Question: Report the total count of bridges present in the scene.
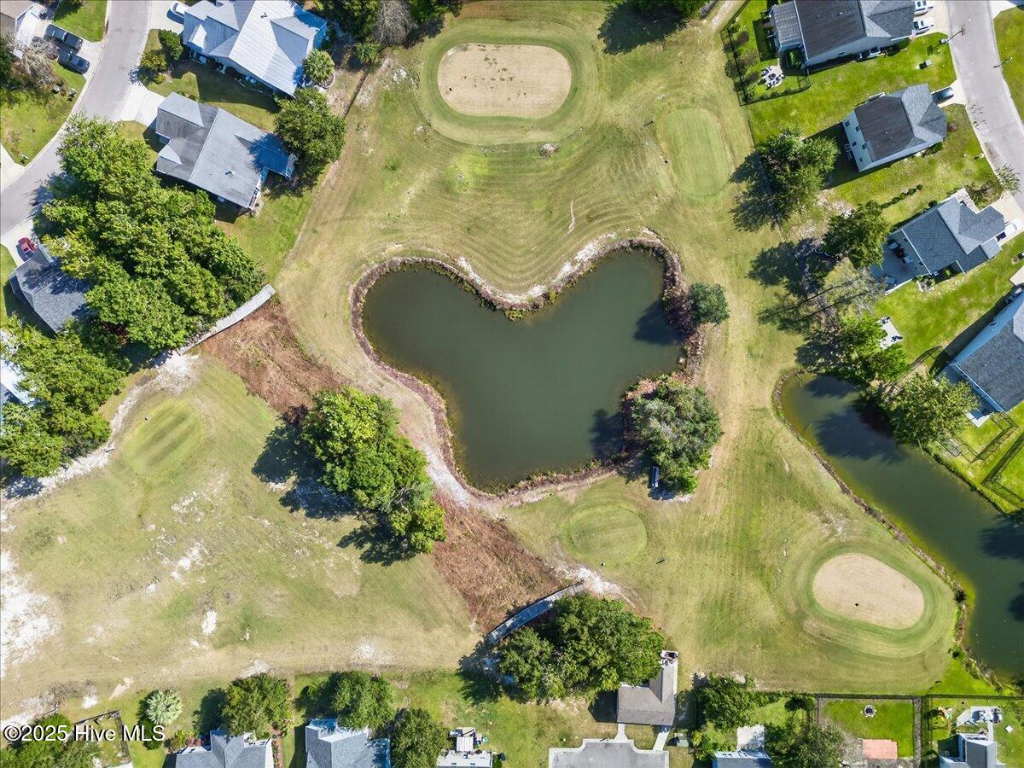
2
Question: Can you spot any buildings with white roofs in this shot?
Yes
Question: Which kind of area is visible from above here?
golf course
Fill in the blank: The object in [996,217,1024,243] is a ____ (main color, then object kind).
white truck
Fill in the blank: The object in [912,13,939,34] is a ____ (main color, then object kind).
white car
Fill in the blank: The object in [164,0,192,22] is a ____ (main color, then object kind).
white car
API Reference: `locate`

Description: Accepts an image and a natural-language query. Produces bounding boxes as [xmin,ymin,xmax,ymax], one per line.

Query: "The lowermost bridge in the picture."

[486,580,589,645]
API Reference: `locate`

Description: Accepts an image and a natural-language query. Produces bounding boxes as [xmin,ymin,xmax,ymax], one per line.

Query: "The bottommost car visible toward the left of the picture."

[14,231,41,260]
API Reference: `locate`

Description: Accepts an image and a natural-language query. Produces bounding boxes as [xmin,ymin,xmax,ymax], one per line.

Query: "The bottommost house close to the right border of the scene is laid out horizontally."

[930,733,1008,768]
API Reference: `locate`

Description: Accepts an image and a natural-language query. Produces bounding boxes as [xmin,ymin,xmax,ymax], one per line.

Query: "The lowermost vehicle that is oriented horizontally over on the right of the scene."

[920,84,959,106]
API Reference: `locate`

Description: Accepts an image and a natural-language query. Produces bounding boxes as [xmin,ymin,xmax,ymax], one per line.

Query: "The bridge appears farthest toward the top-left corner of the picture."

[180,283,275,356]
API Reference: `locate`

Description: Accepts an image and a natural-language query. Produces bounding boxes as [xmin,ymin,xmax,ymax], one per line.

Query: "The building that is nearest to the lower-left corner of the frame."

[174,724,270,768]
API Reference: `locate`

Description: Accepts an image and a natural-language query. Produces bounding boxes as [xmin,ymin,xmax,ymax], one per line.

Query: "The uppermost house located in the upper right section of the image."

[782,0,914,66]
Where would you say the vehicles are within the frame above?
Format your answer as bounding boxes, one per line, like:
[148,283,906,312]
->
[164,0,192,22]
[909,0,938,16]
[920,84,959,106]
[912,13,939,34]
[14,231,41,260]
[43,23,87,55]
[996,217,1024,243]
[57,49,94,76]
